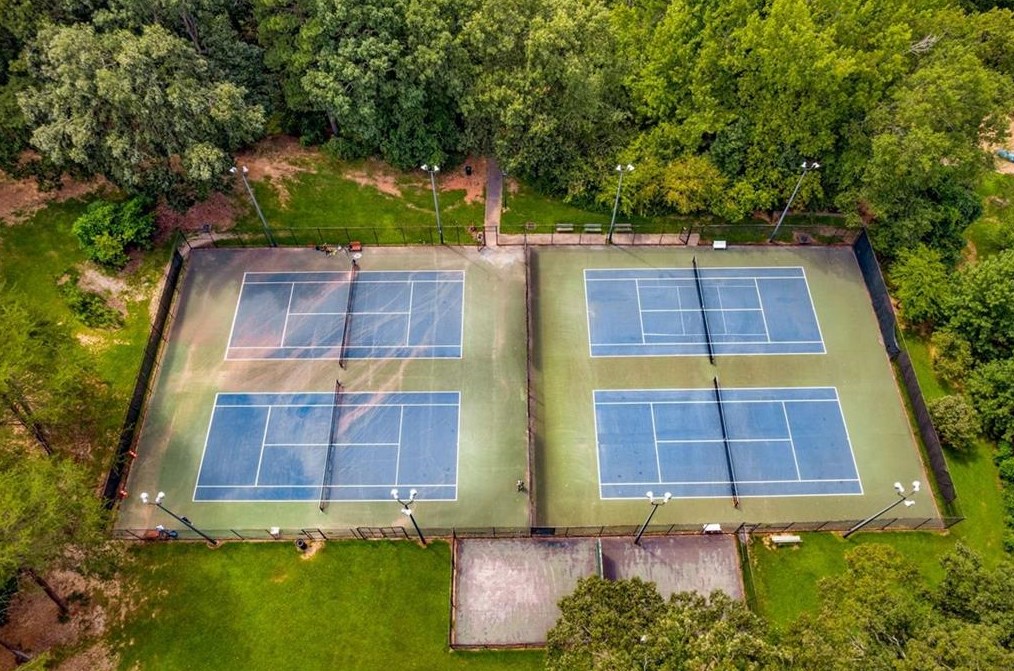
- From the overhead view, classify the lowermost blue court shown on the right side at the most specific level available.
tennis court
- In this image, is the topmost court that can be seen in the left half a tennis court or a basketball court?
tennis court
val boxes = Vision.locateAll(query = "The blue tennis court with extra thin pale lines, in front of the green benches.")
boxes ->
[583,266,826,356]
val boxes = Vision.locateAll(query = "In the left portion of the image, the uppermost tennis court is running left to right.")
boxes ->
[226,270,464,360]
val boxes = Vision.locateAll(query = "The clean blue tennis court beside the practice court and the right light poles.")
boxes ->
[593,388,862,498]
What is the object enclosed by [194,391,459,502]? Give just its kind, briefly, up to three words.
tennis court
